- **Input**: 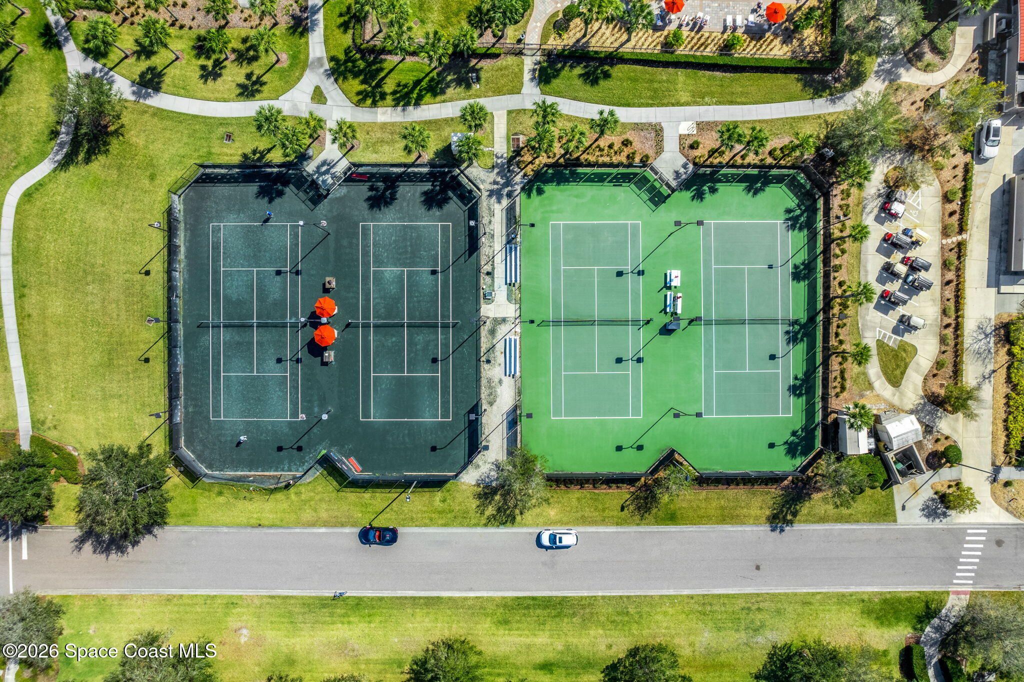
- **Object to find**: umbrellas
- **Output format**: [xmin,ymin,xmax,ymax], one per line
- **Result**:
[765,2,786,24]
[315,297,336,318]
[664,0,684,15]
[314,325,336,347]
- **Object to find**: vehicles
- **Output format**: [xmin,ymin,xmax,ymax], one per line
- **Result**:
[882,187,911,204]
[881,288,910,306]
[904,228,933,246]
[903,256,932,273]
[882,260,910,278]
[898,313,926,329]
[540,531,578,551]
[884,233,912,250]
[905,274,934,292]
[974,117,1000,159]
[879,200,908,218]
[359,528,396,548]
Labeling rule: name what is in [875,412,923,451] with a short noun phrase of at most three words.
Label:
shed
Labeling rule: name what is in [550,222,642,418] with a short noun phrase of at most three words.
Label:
tennis court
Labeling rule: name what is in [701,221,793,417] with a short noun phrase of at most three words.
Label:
tennis court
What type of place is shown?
sports ground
